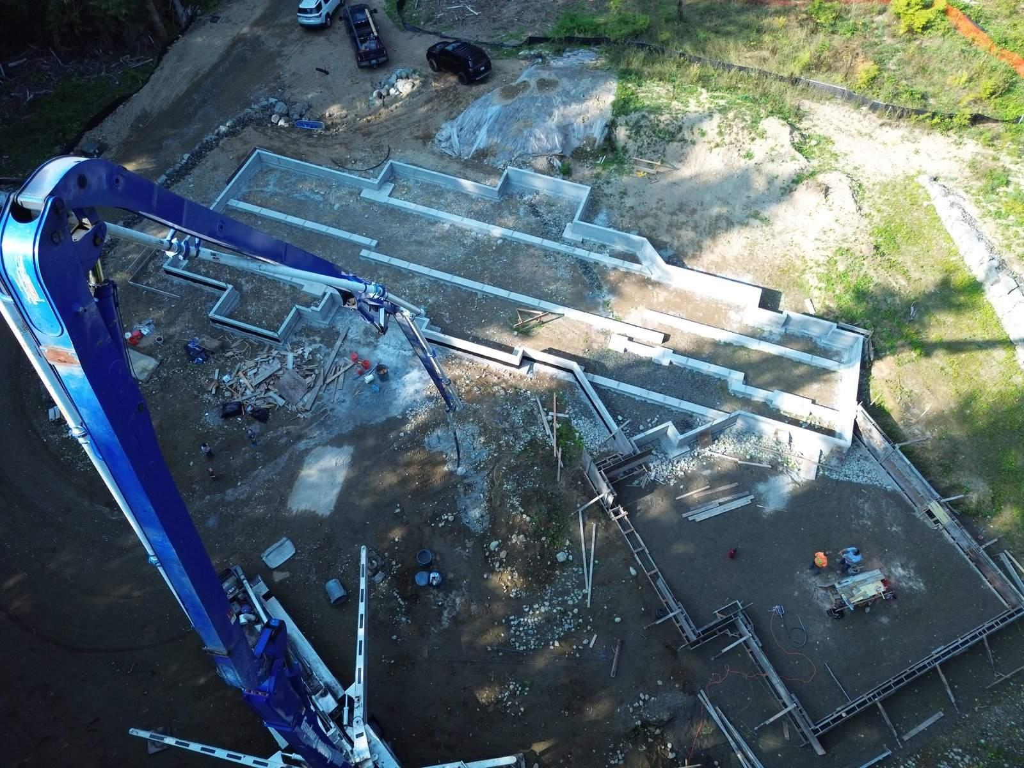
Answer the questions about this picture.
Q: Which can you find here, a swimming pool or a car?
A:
car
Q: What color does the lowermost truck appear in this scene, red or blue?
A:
blue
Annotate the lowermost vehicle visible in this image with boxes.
[0,151,522,768]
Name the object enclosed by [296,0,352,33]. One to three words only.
car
